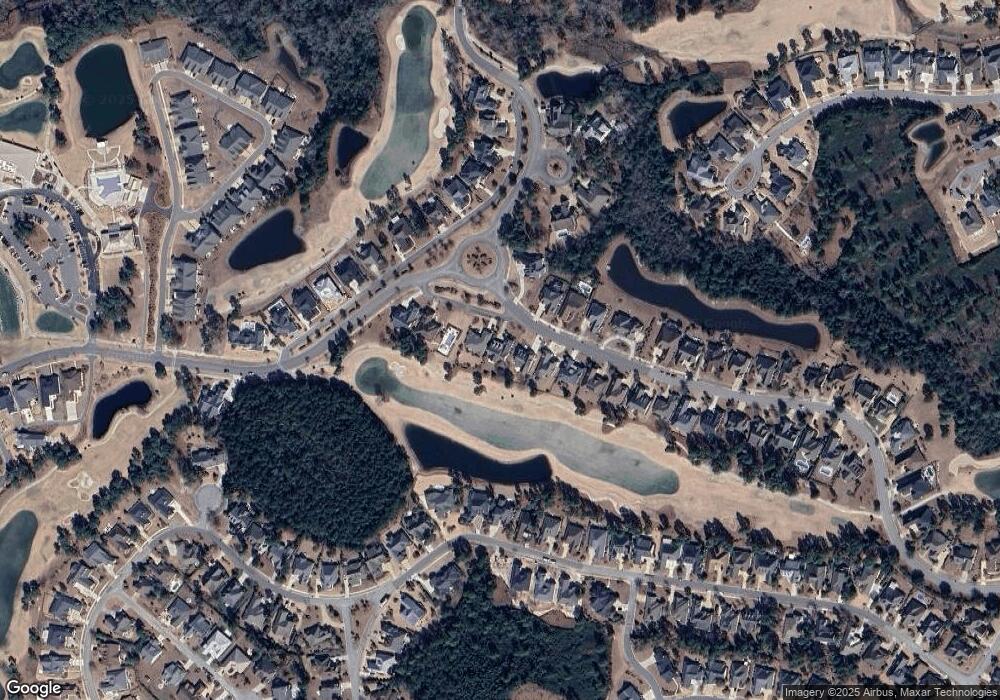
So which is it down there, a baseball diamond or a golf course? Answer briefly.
golf course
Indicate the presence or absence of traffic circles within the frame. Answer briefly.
Yes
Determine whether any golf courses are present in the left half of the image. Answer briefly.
Yes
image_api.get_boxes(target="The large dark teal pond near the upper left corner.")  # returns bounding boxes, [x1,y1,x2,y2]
[75,44,140,138]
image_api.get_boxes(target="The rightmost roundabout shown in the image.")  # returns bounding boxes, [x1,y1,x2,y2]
[950,158,1000,197]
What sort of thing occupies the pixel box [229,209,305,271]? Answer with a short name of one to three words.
pond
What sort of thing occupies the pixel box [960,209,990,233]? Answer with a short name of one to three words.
house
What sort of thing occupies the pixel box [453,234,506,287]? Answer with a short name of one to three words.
roundabout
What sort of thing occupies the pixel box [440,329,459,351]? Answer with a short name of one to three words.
swimming pool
